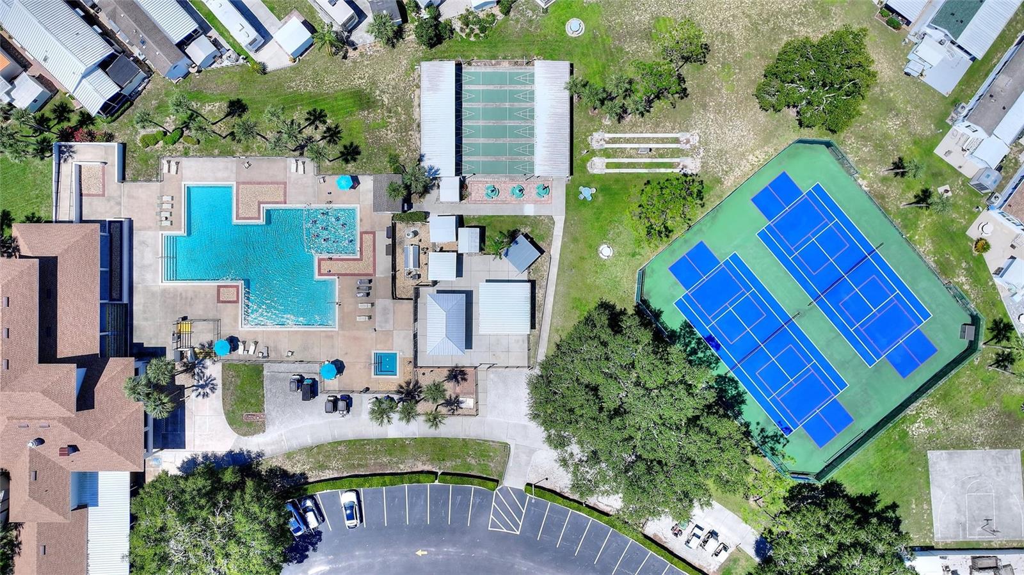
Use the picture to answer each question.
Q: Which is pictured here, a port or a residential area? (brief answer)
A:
residential area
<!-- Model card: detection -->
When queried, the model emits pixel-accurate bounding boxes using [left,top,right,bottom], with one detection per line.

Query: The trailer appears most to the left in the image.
[206,0,270,55]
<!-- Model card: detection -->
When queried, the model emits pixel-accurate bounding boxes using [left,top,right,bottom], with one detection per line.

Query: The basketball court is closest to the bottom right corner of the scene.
[928,450,1024,542]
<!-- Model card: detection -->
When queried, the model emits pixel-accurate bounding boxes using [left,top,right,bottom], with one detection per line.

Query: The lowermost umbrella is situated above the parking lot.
[320,362,338,380]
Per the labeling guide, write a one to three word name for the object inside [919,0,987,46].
house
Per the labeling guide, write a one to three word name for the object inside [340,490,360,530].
car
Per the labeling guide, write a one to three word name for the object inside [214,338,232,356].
umbrella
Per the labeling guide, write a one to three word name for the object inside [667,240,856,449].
tennis court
